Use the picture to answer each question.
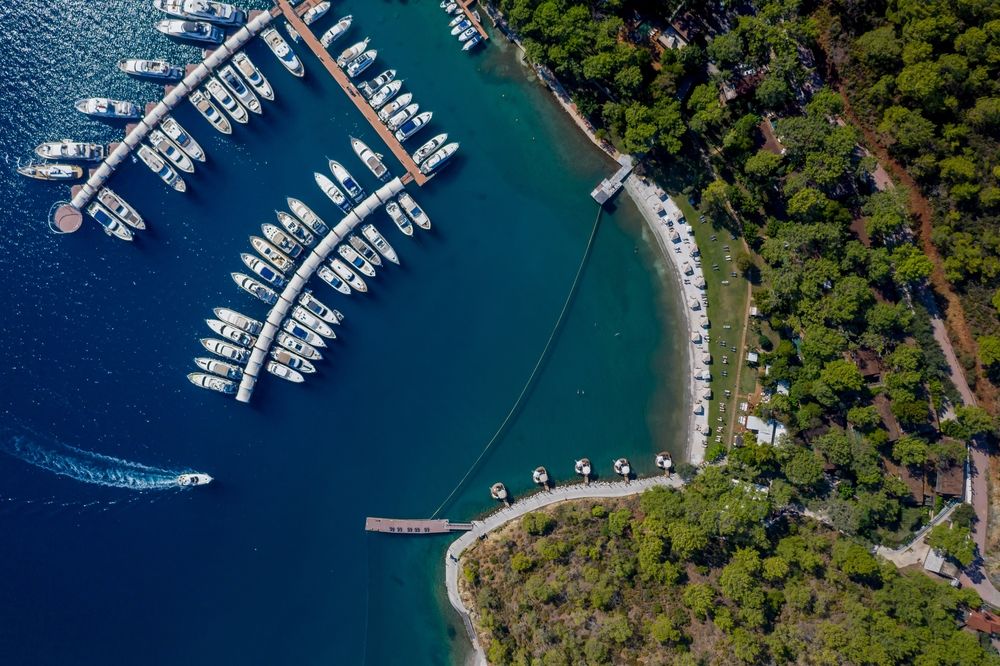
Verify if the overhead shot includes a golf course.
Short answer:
No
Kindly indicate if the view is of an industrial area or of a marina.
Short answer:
marina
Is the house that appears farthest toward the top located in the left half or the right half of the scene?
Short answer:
right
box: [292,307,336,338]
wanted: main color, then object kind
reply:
white boat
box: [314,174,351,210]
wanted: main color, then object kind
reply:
white boat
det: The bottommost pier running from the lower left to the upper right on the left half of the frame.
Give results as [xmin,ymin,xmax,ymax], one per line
[237,177,406,401]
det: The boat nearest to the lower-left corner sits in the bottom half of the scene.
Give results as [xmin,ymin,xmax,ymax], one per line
[177,472,214,485]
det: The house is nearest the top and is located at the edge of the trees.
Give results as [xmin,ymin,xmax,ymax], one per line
[656,26,687,50]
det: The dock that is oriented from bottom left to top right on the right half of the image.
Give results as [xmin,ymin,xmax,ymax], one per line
[590,154,634,206]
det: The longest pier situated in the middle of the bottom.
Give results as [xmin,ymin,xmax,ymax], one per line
[363,516,473,533]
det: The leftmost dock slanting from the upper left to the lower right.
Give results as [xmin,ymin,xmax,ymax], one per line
[268,0,437,185]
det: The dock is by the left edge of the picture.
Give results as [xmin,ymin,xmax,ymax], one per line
[48,10,275,234]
